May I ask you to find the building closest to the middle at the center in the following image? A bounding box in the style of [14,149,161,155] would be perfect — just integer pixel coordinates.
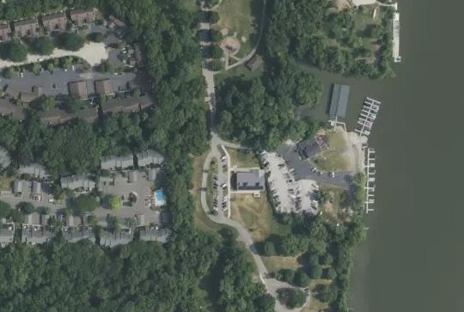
[238,170,266,191]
